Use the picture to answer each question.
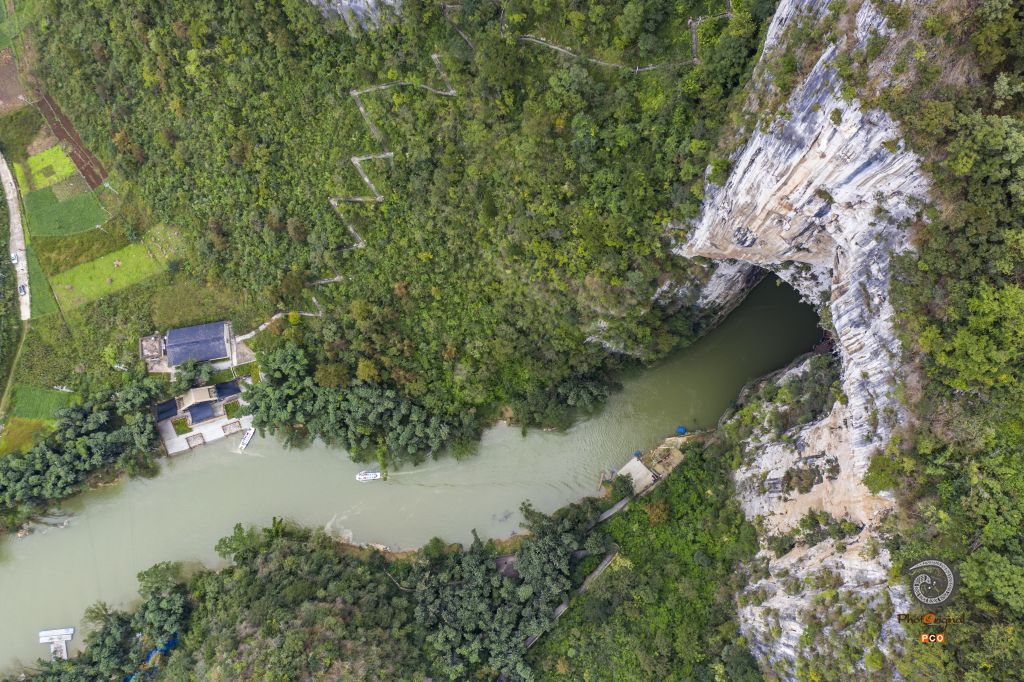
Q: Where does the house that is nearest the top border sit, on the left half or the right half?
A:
left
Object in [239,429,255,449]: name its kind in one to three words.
boat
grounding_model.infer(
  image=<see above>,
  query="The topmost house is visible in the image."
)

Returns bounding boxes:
[165,321,235,366]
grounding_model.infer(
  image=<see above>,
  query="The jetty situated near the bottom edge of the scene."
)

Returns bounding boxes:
[40,634,73,662]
